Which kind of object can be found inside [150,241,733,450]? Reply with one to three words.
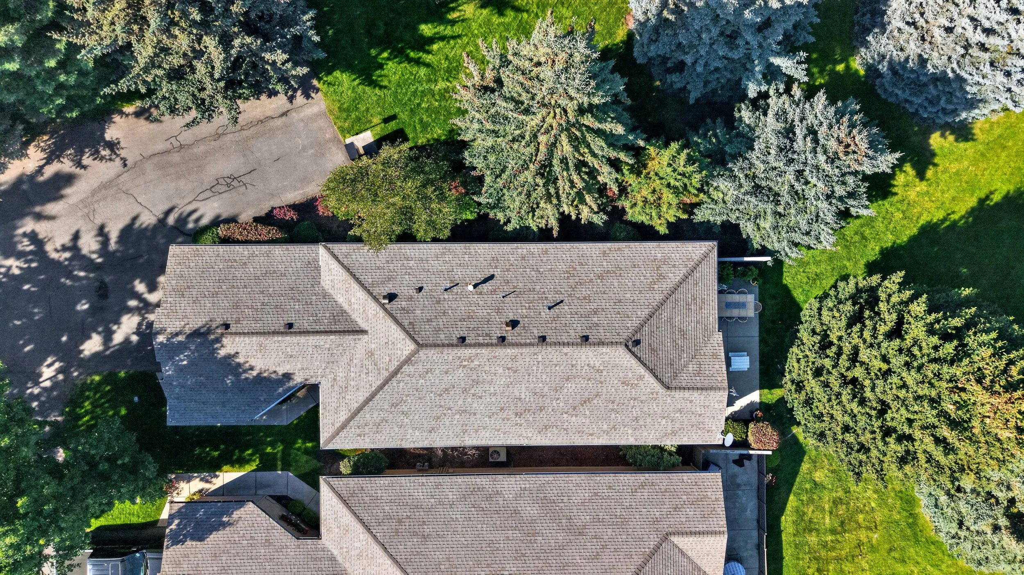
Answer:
house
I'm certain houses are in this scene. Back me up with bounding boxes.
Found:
[150,241,733,450]
[153,466,730,575]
